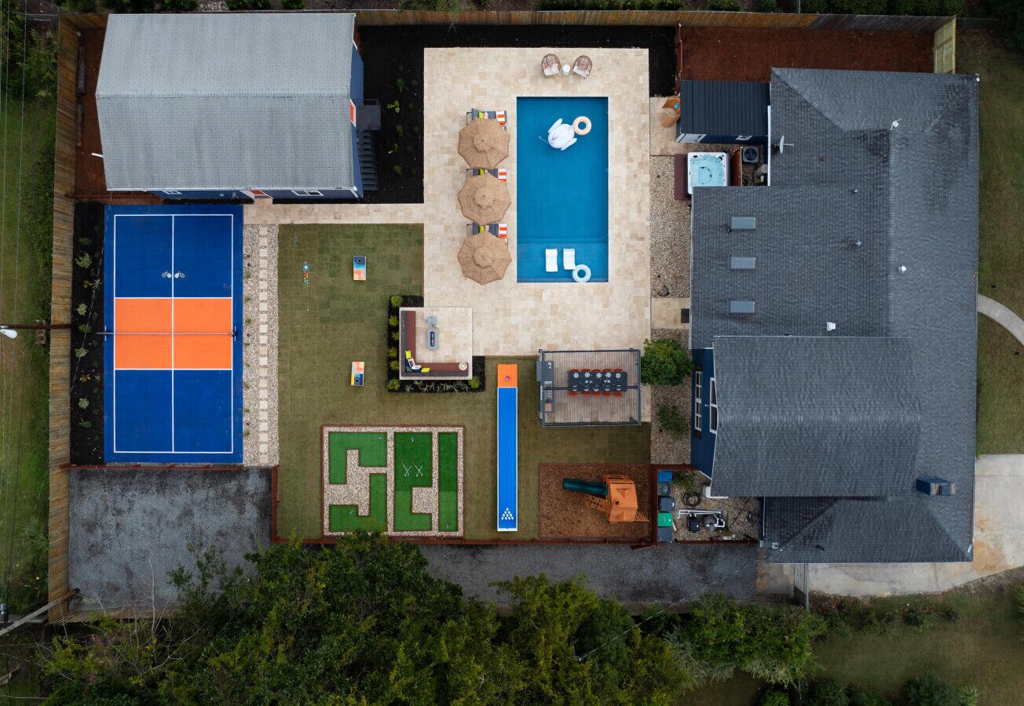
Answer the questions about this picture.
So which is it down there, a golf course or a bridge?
golf course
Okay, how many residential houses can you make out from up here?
2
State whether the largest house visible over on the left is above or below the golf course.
above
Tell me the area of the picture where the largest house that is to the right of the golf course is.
right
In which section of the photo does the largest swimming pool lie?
top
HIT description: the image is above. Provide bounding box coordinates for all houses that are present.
[689,67,980,564]
[96,13,387,204]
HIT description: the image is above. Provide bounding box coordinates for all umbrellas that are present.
[458,117,510,169]
[456,169,512,225]
[456,229,512,284]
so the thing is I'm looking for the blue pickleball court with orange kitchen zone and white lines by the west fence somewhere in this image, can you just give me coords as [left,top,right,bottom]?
[104,205,243,463]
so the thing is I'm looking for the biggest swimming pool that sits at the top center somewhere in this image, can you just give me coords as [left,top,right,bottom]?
[511,91,614,288]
